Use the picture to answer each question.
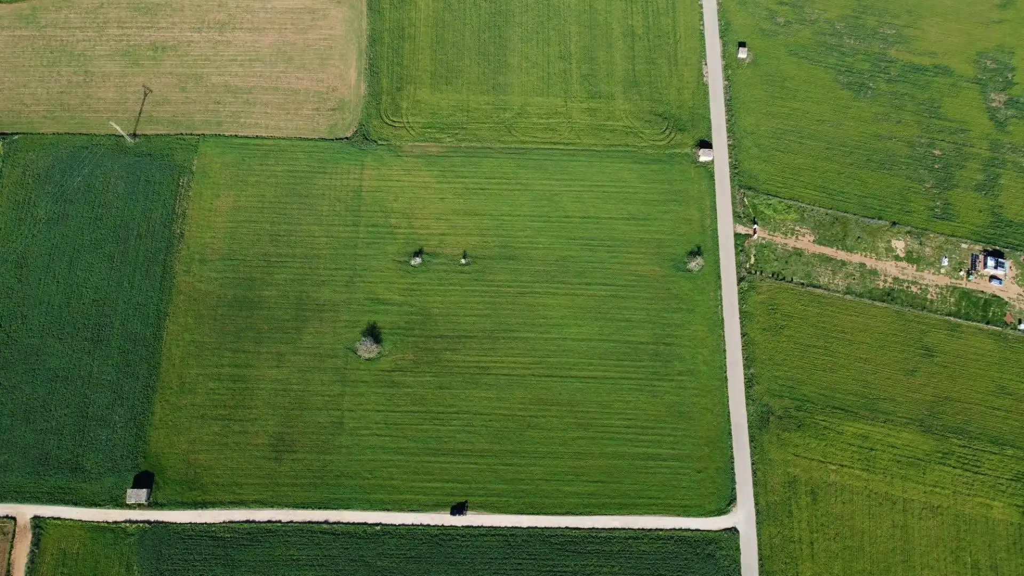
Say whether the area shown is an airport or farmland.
farmland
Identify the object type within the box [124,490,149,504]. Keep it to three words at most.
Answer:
barn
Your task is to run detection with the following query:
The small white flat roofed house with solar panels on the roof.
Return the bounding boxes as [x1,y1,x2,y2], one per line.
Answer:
[977,257,1011,279]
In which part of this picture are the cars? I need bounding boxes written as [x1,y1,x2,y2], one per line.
[450,509,467,516]
[992,279,1005,287]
